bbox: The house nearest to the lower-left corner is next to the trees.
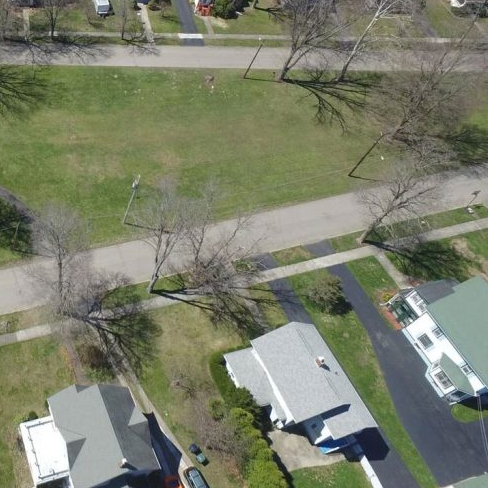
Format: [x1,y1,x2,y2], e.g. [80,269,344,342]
[18,375,167,488]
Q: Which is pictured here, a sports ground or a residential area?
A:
residential area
